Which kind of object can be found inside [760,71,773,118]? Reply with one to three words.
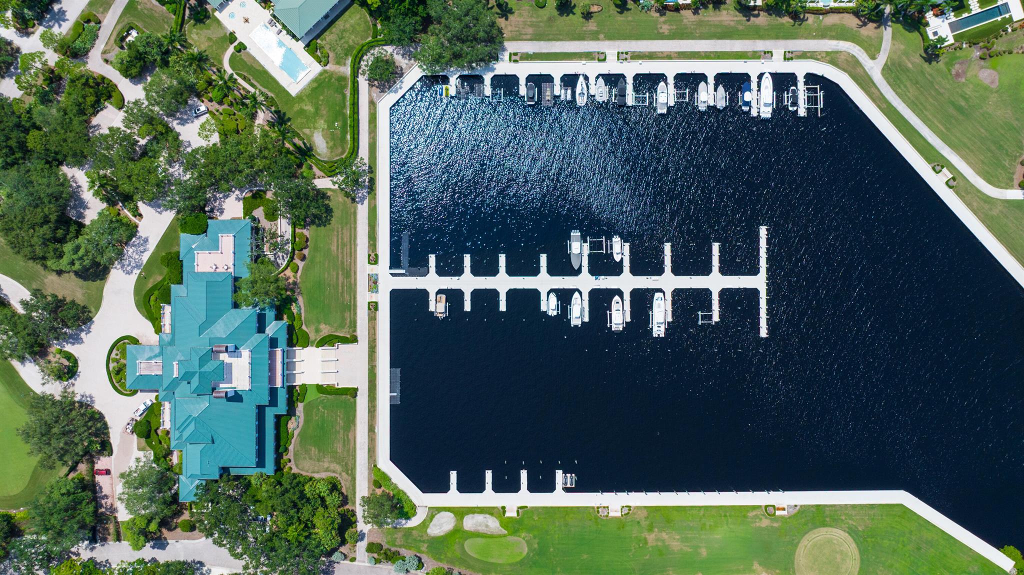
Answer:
boat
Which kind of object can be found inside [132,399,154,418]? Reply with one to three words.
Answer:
vehicle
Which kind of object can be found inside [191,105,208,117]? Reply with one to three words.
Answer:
vehicle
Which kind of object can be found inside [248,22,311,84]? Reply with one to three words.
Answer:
swimming pool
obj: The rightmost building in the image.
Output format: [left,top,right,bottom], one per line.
[275,0,349,43]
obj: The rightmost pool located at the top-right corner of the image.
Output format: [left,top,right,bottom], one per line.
[949,1,1012,34]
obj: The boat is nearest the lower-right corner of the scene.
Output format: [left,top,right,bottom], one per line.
[653,293,665,337]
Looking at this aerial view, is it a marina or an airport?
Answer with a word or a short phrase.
marina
